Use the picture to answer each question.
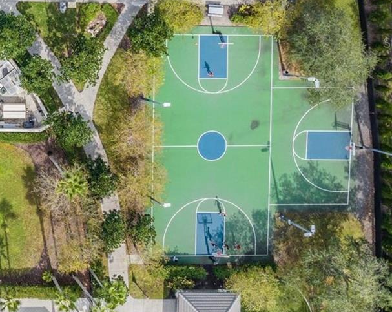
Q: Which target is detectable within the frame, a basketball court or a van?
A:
basketball court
